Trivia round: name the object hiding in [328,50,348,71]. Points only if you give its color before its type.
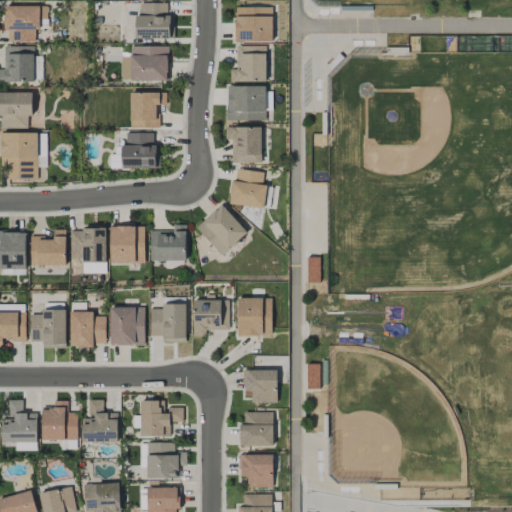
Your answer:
white vehicle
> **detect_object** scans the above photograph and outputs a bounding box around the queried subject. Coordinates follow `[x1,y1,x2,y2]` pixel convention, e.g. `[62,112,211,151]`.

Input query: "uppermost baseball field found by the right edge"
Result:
[329,52,512,292]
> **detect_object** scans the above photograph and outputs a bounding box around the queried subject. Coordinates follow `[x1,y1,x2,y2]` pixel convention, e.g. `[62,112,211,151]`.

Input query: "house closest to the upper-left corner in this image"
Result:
[4,5,49,42]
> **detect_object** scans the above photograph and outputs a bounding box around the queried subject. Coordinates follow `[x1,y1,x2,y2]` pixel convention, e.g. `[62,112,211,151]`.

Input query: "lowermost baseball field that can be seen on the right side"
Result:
[330,346,467,484]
